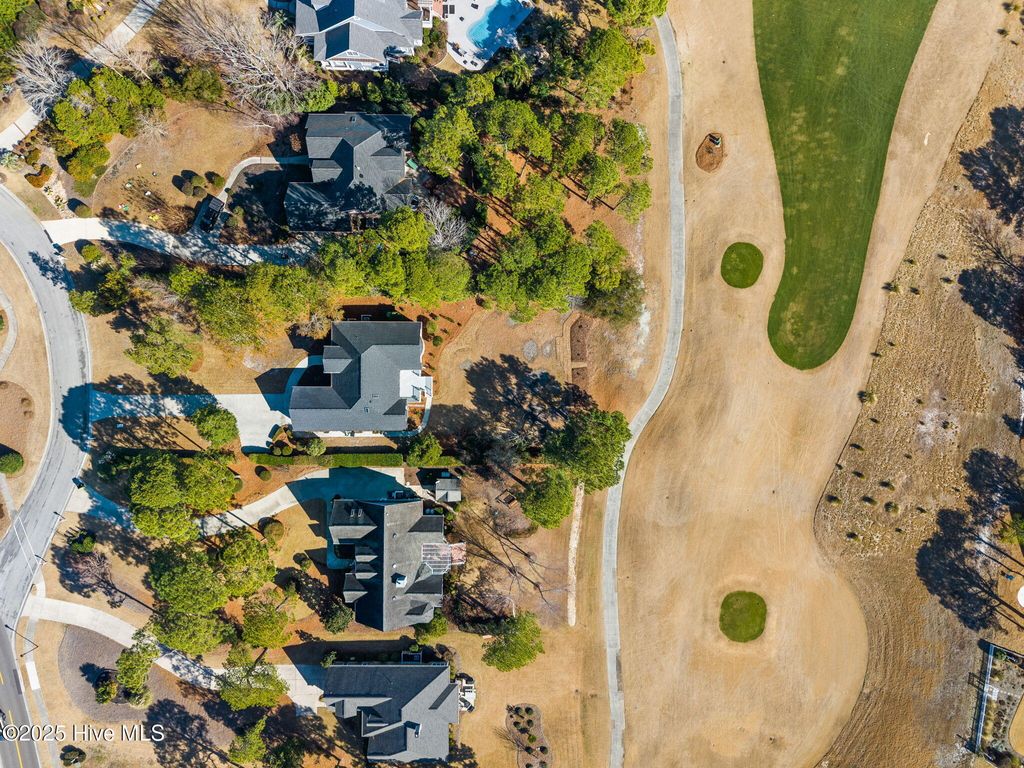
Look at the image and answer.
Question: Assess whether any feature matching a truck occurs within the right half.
No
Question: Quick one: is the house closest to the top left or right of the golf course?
to the left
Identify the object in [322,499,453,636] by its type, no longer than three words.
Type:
house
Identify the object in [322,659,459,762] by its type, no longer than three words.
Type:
house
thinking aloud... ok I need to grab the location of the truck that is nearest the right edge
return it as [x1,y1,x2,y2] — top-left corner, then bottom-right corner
[196,191,223,234]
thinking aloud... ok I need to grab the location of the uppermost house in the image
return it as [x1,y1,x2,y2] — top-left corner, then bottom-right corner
[295,0,436,69]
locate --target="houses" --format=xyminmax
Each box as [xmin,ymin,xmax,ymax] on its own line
[295,0,436,69]
[277,113,419,232]
[322,659,459,762]
[283,321,432,431]
[322,499,453,636]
